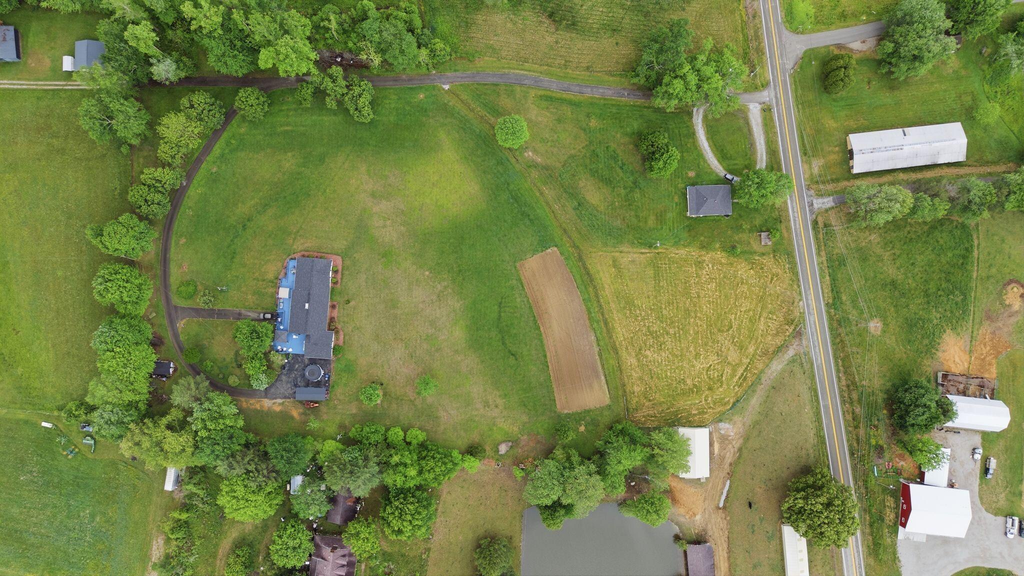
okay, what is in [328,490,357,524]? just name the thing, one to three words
house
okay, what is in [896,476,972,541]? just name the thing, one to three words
barn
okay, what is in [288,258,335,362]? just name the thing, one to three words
house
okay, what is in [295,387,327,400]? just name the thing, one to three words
shed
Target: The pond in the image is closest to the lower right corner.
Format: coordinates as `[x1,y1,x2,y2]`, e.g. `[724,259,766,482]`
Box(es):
[520,501,687,576]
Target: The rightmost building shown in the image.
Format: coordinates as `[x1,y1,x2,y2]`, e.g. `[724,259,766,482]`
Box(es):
[942,395,1011,432]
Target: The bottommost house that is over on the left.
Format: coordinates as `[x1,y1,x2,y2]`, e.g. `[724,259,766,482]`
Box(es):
[312,534,355,576]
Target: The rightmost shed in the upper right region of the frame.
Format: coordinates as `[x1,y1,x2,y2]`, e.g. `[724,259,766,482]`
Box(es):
[845,122,967,174]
